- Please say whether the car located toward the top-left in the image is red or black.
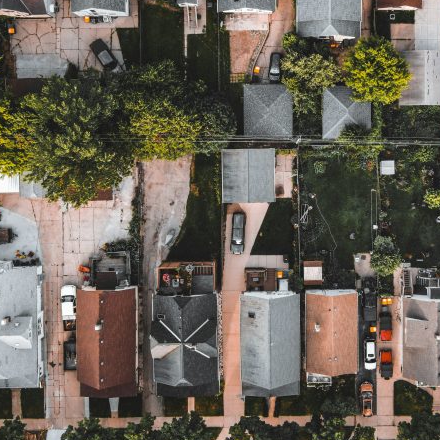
black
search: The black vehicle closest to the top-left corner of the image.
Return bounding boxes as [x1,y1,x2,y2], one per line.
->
[90,38,117,71]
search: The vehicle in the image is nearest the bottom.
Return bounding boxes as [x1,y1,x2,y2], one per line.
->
[360,380,374,418]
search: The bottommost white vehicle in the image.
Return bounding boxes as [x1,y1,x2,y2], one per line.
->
[363,338,378,371]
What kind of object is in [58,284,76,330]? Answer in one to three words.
vehicle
